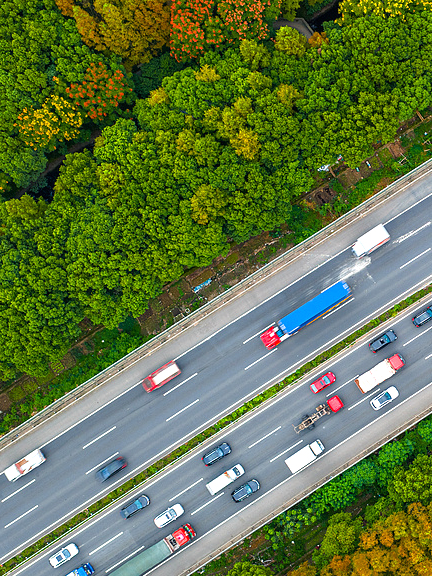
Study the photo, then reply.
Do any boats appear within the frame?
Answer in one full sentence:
No, this view has no boat in it.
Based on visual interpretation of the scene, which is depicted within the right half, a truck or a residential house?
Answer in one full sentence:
Looking within the right half, you will find a truck.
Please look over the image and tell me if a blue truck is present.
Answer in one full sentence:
Yes, a blue truck appears in the view.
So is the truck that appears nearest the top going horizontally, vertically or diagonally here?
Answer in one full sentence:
In this picture, the truck that appears nearest the top is oriented diagonally.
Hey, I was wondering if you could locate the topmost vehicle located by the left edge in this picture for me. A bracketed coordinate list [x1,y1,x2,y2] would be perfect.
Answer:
[6,447,49,482]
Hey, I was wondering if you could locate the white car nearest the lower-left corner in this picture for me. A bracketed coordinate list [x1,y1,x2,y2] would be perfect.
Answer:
[48,543,80,568]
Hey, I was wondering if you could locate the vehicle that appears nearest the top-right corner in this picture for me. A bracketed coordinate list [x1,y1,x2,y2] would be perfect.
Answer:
[350,226,390,260]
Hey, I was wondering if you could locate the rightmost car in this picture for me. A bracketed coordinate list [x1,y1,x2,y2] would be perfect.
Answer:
[411,305,432,328]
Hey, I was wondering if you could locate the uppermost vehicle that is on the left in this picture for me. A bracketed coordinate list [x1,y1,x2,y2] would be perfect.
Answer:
[142,360,183,393]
